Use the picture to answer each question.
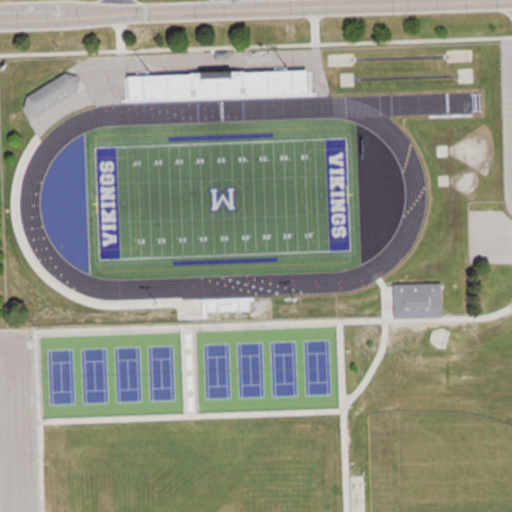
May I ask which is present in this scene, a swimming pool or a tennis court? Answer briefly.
tennis court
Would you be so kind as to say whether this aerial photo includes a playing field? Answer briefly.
Yes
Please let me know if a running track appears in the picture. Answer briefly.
Yes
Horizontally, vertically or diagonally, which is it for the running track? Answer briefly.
horizontally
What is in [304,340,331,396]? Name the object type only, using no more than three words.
tennis court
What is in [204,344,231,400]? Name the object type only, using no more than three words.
tennis court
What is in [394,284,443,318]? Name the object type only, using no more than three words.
building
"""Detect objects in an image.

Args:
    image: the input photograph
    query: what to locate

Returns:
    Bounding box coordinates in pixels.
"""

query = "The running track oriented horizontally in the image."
[20,92,471,300]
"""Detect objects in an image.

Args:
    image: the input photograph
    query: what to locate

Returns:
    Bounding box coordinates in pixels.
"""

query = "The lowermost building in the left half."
[22,73,78,116]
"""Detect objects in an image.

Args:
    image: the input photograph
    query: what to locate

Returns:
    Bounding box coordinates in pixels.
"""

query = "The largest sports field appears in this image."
[84,118,362,280]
